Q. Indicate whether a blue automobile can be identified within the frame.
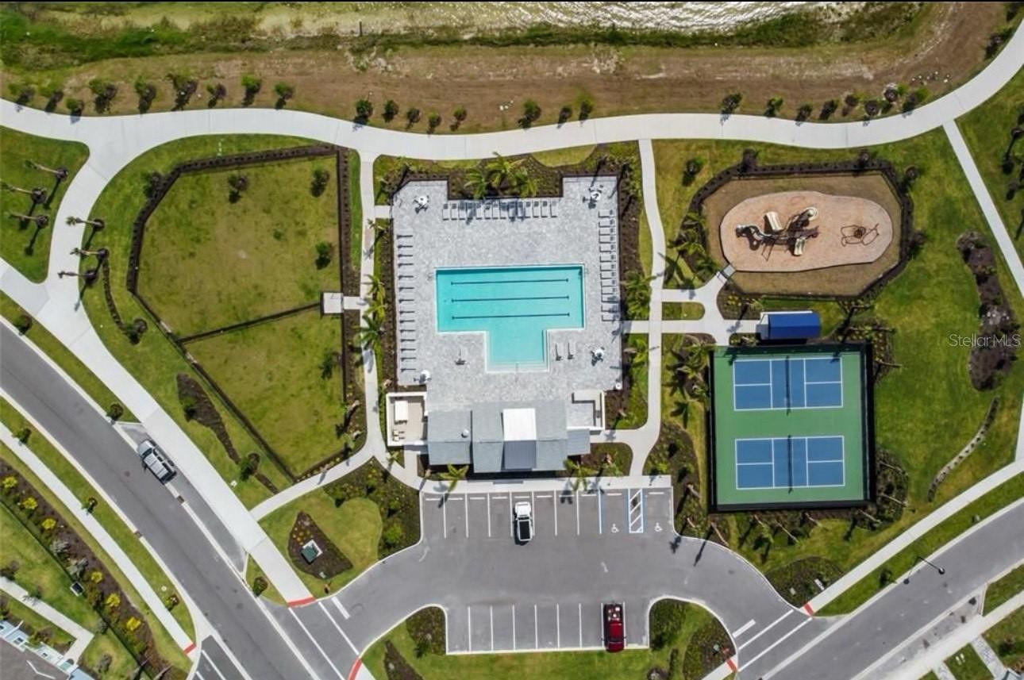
No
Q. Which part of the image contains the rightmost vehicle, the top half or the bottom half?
bottom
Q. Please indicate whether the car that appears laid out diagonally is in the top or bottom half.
bottom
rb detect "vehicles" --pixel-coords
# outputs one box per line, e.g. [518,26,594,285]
[514,503,532,545]
[137,441,176,485]
[604,602,624,652]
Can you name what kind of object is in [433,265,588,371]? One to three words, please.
swimming pool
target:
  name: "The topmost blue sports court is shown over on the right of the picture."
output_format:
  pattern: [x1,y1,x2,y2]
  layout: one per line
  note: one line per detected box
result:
[733,355,844,413]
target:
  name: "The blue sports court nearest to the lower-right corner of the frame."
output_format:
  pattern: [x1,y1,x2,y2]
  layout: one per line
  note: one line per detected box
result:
[735,435,846,492]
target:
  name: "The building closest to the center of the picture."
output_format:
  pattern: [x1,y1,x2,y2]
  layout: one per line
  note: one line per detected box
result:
[387,390,605,473]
